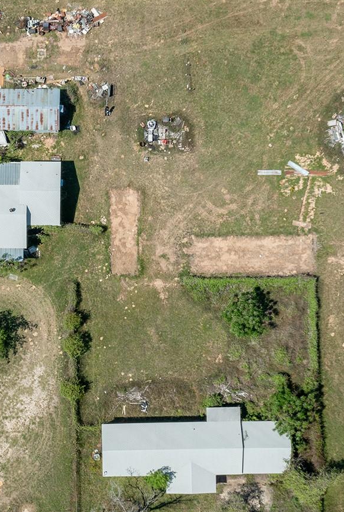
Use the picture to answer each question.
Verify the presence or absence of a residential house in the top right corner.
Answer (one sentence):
No, I see no residential house in the top right corner.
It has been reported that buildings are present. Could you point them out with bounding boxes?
[0,160,65,267]
[101,406,292,494]
[0,88,65,134]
